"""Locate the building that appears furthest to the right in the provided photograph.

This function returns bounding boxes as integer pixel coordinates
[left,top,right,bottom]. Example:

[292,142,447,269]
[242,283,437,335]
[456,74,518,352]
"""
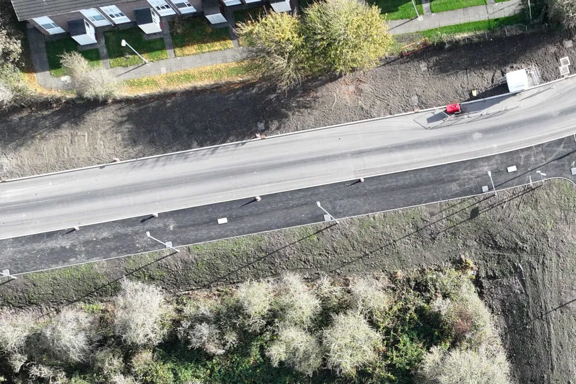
[496,68,538,101]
